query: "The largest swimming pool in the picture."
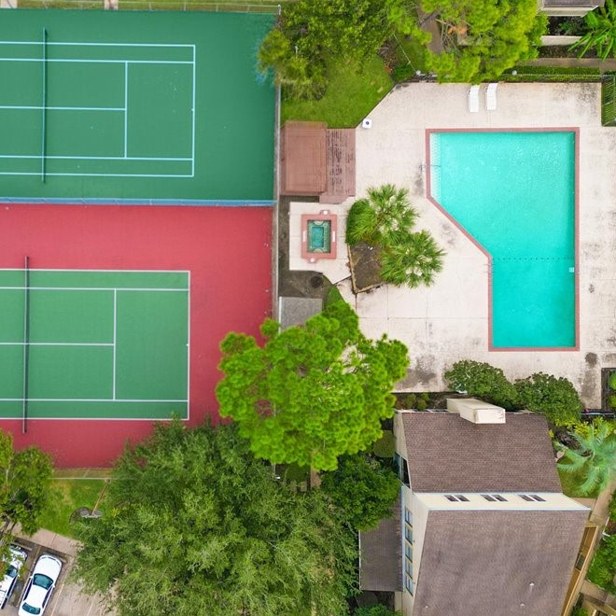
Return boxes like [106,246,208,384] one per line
[426,127,580,351]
